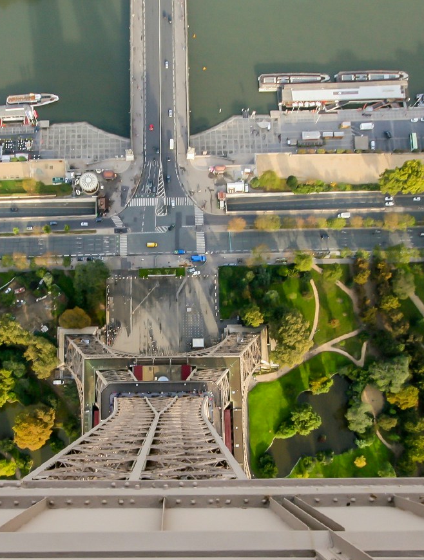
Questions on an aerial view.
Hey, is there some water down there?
Yes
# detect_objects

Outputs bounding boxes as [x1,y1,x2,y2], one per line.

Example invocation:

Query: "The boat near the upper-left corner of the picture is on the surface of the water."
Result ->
[6,94,59,107]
